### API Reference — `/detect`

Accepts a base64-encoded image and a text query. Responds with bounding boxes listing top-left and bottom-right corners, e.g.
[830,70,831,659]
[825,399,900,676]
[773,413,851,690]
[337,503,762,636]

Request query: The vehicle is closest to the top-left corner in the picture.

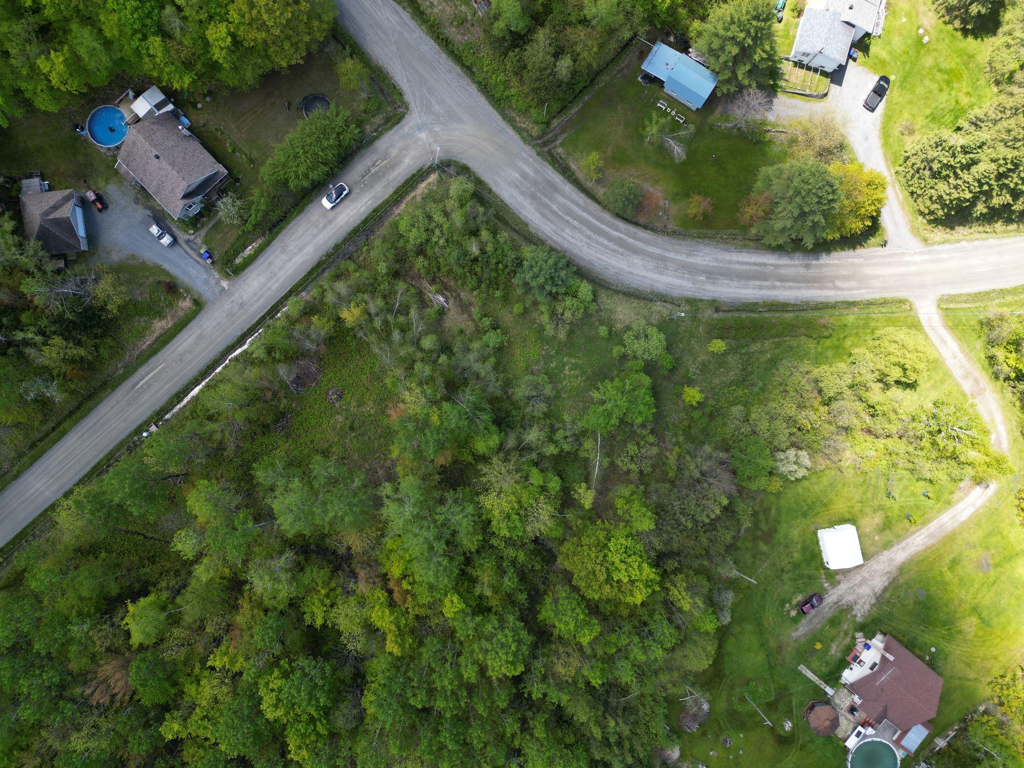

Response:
[82,189,107,211]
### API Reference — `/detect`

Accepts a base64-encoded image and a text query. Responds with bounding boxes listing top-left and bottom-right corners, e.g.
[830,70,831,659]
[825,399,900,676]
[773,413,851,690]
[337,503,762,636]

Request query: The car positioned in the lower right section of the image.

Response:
[796,591,824,613]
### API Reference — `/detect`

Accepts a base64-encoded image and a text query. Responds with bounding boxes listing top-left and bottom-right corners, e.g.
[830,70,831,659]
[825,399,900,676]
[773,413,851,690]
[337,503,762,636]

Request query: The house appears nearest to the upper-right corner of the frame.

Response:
[785,0,881,72]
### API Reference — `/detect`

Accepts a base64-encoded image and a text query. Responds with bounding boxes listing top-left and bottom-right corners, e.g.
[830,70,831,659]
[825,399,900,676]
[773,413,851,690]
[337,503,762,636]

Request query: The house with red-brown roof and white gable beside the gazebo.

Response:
[839,630,943,731]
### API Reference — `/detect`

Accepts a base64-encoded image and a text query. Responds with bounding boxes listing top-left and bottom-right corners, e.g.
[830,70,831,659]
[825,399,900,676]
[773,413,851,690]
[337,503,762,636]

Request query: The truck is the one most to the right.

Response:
[860,73,891,116]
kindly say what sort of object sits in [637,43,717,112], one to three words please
shed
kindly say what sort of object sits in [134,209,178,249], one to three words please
truck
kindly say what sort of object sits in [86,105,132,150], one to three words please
swimming pool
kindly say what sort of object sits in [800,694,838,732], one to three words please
gazebo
